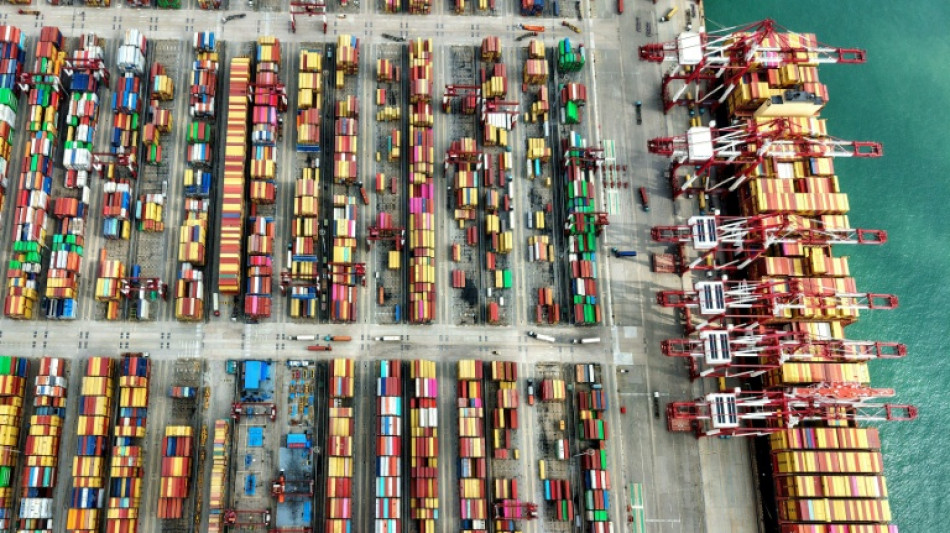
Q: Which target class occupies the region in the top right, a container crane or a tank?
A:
container crane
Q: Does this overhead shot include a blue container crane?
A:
No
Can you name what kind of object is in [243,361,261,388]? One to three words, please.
shed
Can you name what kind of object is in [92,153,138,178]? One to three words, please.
container crane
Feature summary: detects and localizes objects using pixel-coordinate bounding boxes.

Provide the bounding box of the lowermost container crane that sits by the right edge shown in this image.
[663,378,917,444]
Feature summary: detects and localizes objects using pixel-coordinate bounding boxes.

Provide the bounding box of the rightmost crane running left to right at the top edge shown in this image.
[640,18,869,112]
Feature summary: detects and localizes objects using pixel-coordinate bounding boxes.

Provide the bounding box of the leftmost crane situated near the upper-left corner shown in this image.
[18,72,68,100]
